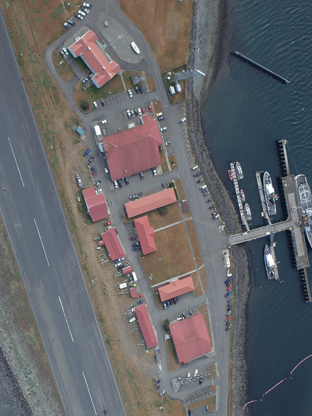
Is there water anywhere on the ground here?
Yes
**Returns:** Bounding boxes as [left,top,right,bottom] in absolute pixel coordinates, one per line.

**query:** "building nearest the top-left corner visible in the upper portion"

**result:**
[69,30,121,88]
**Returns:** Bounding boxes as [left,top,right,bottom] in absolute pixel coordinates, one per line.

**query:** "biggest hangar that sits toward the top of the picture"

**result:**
[100,115,162,181]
